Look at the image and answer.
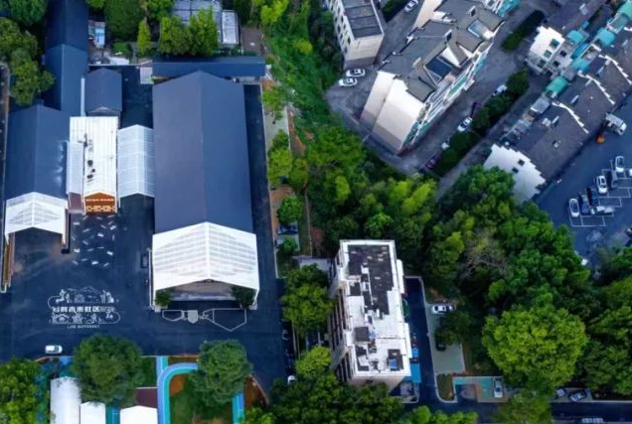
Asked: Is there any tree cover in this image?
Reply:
Yes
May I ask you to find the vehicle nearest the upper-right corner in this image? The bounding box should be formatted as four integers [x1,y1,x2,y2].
[605,109,628,131]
